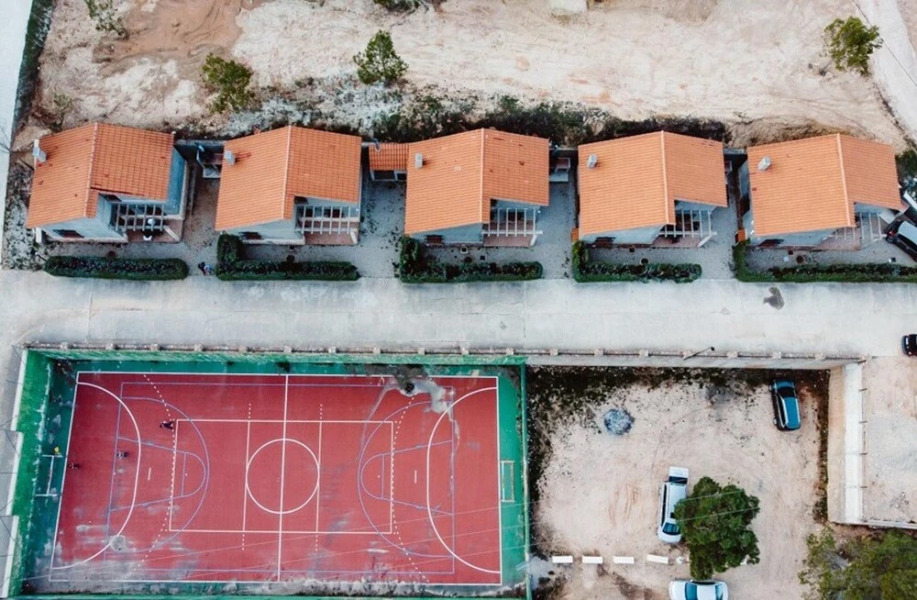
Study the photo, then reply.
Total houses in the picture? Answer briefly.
five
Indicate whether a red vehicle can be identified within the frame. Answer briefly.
No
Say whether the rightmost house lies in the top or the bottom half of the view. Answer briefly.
top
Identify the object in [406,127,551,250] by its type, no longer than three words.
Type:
house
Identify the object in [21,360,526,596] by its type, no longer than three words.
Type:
sports court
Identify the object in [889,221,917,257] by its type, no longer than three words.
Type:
car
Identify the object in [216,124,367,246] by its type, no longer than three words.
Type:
house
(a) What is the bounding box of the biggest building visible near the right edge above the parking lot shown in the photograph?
[734,133,903,253]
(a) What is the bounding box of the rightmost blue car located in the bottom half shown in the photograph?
[770,381,802,432]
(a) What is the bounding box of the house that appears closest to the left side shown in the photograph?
[25,122,187,243]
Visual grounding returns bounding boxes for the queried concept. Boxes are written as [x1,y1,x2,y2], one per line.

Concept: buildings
[216,124,367,246]
[734,133,903,253]
[573,130,728,251]
[406,127,551,250]
[25,122,187,243]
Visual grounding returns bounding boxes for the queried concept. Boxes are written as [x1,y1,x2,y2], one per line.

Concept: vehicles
[770,381,802,432]
[670,579,729,600]
[889,221,917,257]
[656,468,688,542]
[903,334,917,357]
